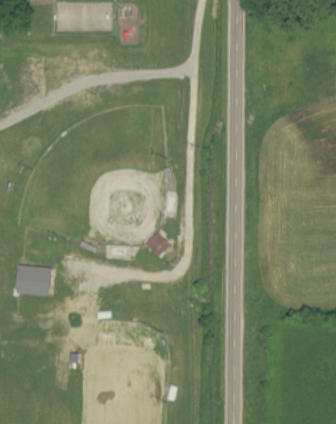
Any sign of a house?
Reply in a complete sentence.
Yes, the image includes a house.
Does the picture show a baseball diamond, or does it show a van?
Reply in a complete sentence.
Visible in the photo is a baseball diamond.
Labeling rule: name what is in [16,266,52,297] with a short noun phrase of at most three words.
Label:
house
